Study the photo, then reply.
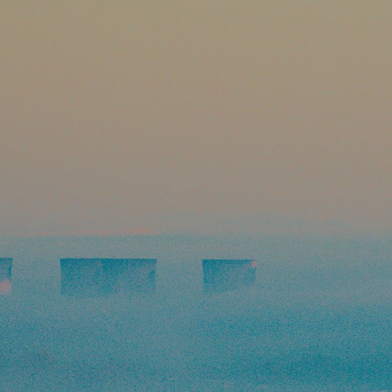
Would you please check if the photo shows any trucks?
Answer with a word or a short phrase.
No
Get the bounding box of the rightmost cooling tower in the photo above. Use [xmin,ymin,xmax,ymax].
[188,260,271,354]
